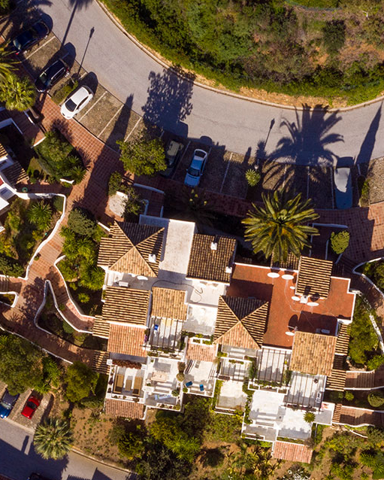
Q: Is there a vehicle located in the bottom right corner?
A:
No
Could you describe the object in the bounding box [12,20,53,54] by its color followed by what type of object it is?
black car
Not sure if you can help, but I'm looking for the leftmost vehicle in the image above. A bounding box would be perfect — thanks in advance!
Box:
[0,389,21,422]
